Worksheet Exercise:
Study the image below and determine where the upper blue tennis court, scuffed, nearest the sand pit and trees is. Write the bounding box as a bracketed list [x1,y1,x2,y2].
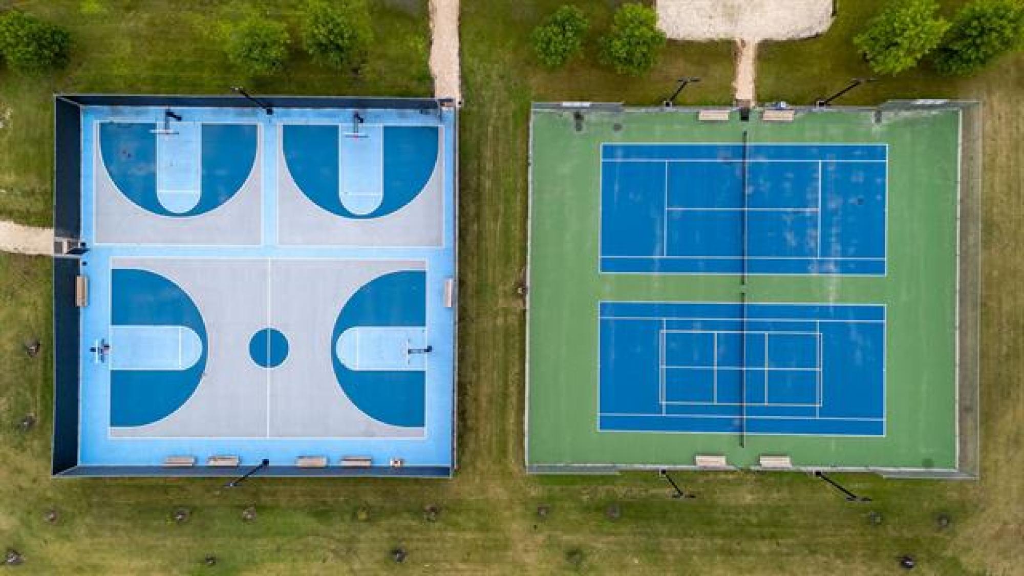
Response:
[599,144,888,276]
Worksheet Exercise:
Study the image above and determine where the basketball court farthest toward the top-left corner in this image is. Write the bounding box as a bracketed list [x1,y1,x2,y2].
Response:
[94,121,262,246]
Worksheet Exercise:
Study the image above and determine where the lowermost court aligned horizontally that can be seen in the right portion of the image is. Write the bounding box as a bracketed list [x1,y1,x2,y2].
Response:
[598,301,886,437]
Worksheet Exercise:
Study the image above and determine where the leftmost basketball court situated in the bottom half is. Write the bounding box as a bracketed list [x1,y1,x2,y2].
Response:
[108,257,427,439]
